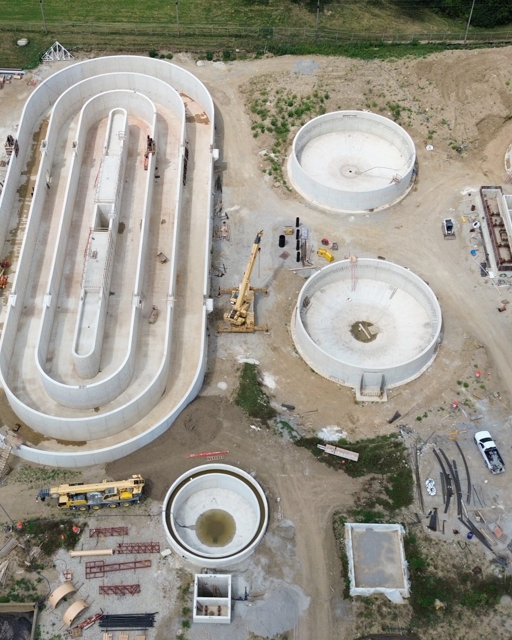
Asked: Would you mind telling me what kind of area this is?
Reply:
industrial area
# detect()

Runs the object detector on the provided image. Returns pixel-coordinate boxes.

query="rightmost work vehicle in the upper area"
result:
[443,212,458,239]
